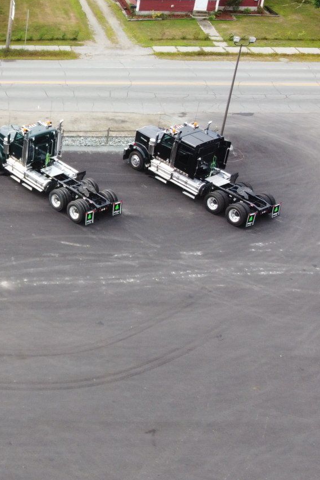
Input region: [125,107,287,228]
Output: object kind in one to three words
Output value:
truck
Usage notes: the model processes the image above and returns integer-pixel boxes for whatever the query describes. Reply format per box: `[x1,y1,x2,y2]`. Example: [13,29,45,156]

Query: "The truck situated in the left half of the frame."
[0,112,127,224]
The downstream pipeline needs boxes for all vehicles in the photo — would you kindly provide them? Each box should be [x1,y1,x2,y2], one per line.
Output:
[125,107,287,228]
[0,112,127,224]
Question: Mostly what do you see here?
paved ground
